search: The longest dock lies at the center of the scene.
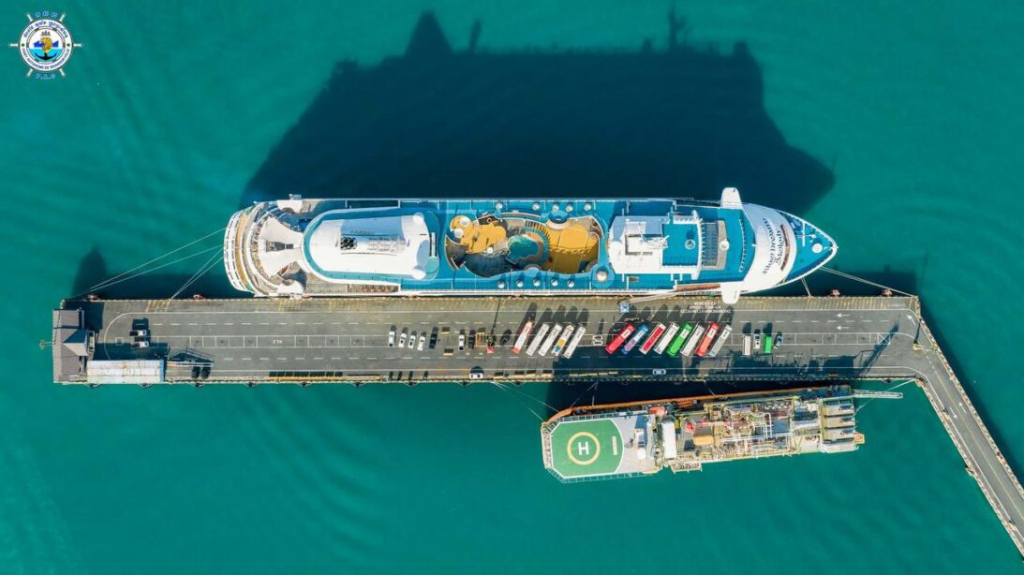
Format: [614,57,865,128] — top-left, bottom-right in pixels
[53,291,943,390]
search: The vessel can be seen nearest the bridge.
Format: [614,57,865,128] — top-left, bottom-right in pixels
[542,383,904,483]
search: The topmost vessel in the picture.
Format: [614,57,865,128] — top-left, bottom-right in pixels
[225,190,844,303]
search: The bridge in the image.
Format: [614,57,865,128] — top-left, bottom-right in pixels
[915,356,1024,559]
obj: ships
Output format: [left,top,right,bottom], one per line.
[225,190,844,303]
[542,383,904,483]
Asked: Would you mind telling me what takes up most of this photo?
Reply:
water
